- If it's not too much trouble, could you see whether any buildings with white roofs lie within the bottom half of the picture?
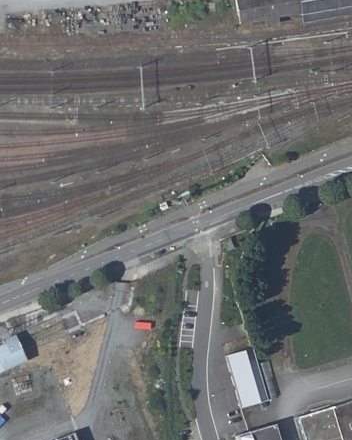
Yes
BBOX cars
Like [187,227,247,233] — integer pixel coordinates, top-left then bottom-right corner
[158,248,168,255]
[184,312,195,317]
[228,410,238,416]
[167,244,178,252]
[230,418,240,424]
[183,324,194,328]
